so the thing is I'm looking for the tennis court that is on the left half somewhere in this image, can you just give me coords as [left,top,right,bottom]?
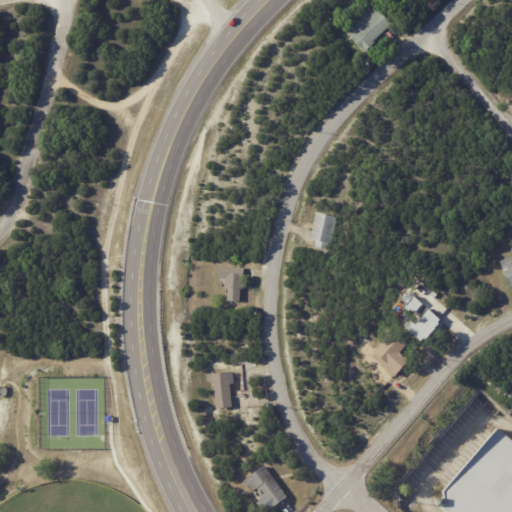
[40,378,104,450]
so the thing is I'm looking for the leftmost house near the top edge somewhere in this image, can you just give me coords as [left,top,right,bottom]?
[347,8,392,49]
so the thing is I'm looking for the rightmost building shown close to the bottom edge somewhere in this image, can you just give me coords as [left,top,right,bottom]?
[442,430,512,512]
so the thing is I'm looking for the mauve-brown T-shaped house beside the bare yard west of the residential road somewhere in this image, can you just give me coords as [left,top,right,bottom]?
[218,266,244,303]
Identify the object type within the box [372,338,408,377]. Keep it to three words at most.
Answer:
house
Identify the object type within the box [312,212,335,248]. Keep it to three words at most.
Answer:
barn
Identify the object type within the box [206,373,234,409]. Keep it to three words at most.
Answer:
house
